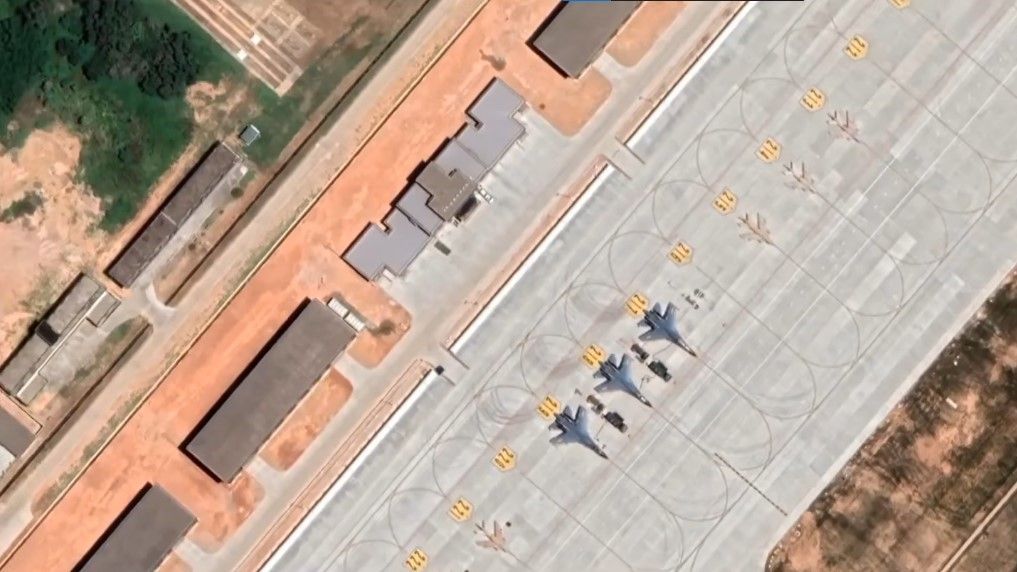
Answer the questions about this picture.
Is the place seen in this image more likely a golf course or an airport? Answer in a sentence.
This image shows an airport.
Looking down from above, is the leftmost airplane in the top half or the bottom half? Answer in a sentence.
The leftmost airplane is in the bottom half of the image.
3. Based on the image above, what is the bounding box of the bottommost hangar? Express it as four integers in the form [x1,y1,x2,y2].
[79,483,200,572]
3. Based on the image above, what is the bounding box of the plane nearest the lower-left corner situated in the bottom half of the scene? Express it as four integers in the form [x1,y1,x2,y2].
[471,517,508,551]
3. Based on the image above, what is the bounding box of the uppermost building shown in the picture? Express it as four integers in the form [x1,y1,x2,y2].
[533,0,645,80]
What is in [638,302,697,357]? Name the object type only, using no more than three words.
airplane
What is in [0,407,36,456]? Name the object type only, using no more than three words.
building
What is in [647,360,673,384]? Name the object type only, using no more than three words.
truck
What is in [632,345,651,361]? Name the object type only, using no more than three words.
vehicle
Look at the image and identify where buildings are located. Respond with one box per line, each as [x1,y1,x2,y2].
[345,312,365,332]
[186,298,359,485]
[0,447,16,480]
[79,483,200,572]
[108,143,247,287]
[343,78,525,281]
[533,0,645,80]
[0,407,36,456]
[240,124,260,145]
[0,274,120,405]
[328,298,348,317]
